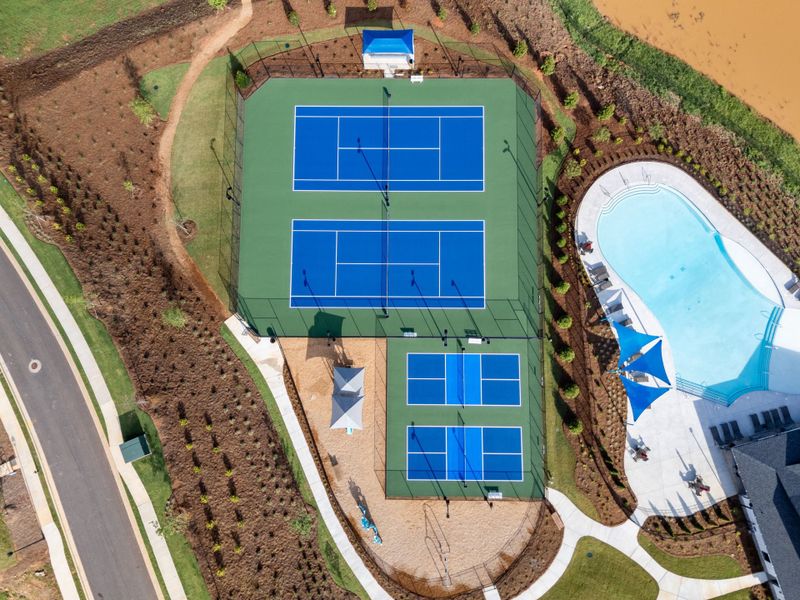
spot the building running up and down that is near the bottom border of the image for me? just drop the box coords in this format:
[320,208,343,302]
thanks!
[723,423,800,600]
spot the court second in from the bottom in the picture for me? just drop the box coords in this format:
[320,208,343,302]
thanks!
[407,353,520,405]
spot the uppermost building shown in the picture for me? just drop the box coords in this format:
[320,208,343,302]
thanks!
[362,30,415,68]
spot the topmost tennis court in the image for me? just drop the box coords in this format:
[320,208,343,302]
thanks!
[293,106,484,191]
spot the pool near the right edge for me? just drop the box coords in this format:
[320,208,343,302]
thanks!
[596,183,800,407]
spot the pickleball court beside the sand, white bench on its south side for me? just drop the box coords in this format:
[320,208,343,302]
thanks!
[408,427,522,480]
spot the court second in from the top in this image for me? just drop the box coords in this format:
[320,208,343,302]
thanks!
[290,220,486,309]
